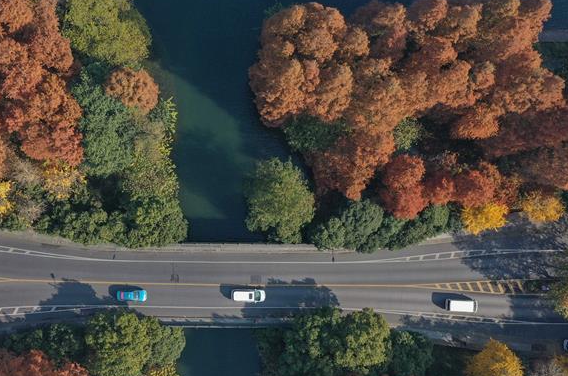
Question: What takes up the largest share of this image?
trees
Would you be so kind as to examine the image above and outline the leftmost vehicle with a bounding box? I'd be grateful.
[116,289,147,302]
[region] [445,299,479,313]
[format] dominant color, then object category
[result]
white vehicle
